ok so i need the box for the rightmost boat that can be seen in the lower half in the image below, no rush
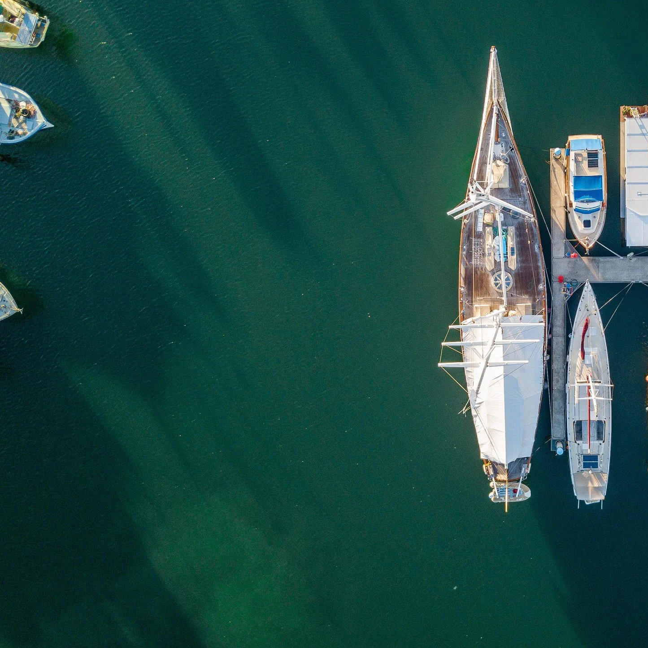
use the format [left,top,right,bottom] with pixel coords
[566,280,614,509]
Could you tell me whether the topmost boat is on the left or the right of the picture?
left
